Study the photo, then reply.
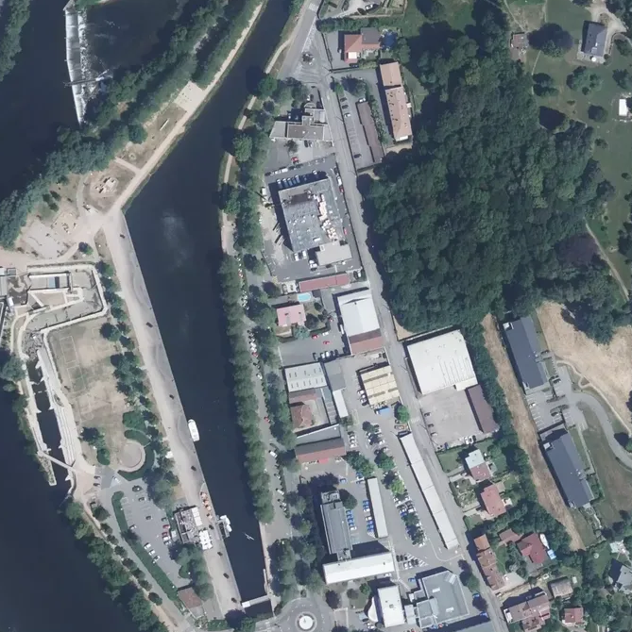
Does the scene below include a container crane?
No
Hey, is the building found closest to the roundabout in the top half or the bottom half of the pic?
bottom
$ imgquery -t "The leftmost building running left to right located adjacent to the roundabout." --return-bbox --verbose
[324,553,395,587]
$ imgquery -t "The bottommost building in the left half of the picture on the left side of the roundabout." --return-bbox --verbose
[178,588,211,623]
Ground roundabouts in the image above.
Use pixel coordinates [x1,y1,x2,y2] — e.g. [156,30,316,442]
[282,599,331,632]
